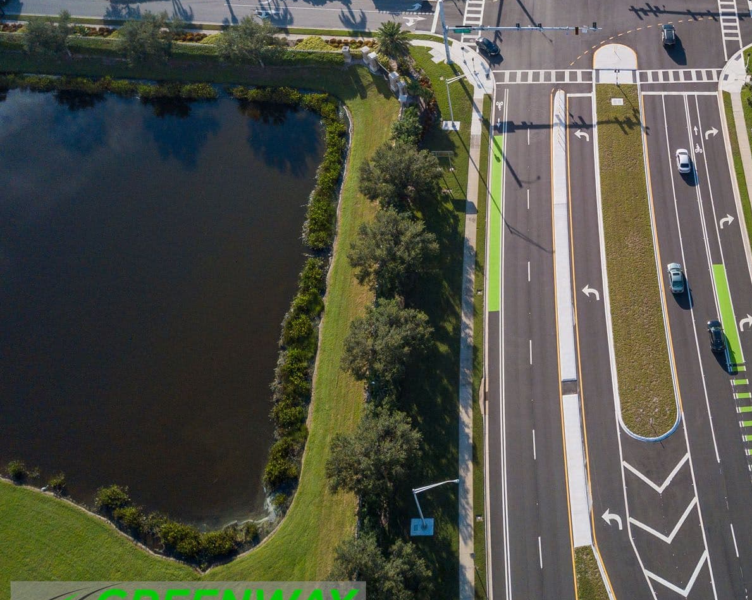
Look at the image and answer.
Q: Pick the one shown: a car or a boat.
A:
car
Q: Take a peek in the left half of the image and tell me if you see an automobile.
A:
No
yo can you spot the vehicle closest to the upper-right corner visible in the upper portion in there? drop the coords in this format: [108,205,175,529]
[662,26,676,49]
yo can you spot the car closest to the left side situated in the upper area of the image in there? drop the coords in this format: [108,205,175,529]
[473,33,499,57]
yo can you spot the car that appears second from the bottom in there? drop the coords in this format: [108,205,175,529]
[667,264,686,296]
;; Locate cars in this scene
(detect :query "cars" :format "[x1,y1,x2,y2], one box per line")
[676,149,693,175]
[662,26,676,49]
[667,264,686,296]
[707,323,727,358]
[473,33,499,57]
